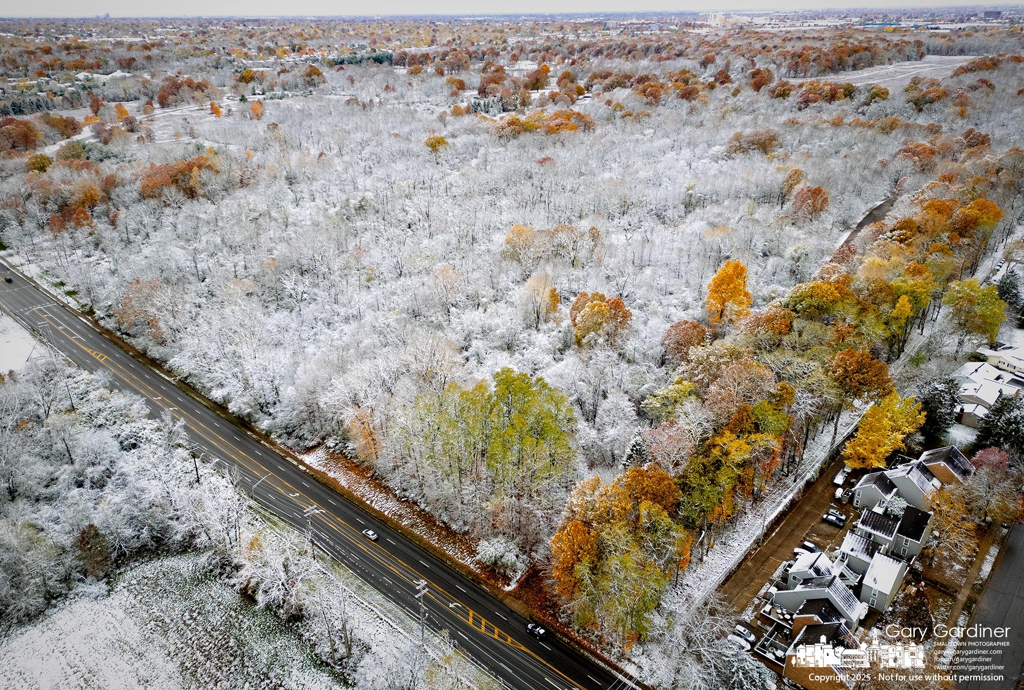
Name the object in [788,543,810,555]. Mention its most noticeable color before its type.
white vehicle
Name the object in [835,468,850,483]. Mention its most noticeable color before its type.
white car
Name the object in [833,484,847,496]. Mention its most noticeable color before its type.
white vehicle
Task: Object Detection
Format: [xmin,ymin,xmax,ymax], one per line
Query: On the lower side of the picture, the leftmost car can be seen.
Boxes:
[361,526,378,538]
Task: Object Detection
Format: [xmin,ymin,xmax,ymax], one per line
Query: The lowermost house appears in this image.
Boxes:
[783,622,867,690]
